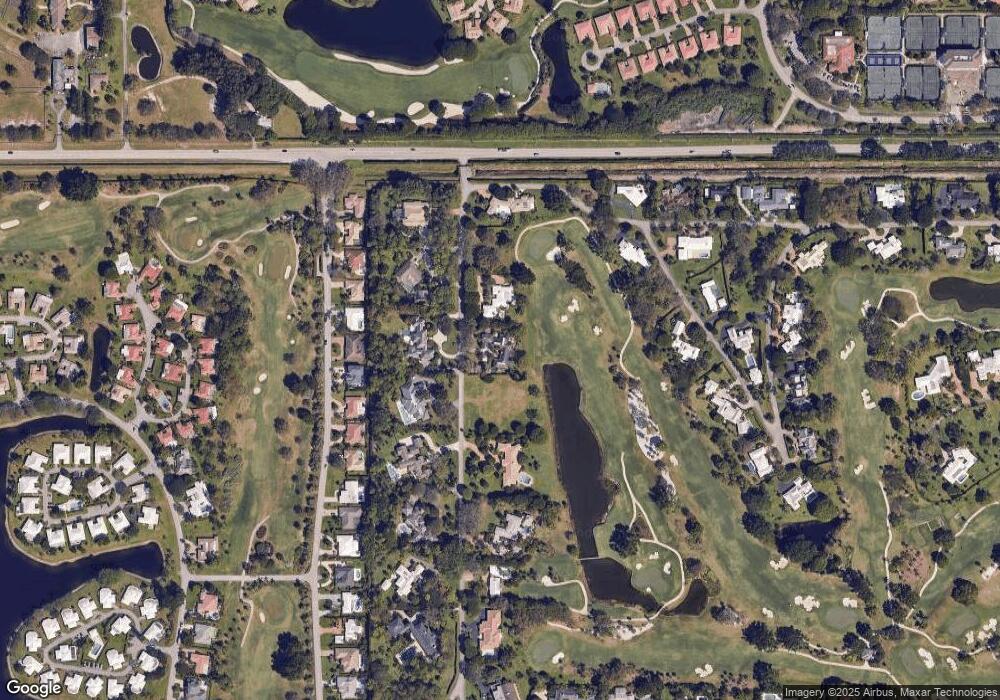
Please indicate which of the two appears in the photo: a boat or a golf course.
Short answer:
golf course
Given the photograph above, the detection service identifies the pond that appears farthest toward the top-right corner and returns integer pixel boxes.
[931,277,1000,311]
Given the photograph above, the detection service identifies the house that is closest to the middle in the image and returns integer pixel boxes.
[476,328,520,369]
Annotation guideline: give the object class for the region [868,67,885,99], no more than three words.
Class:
tennis court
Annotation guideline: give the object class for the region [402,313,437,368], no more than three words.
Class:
house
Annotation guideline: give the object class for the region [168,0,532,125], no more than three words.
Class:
golf course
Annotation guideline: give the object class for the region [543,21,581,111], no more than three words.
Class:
pond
